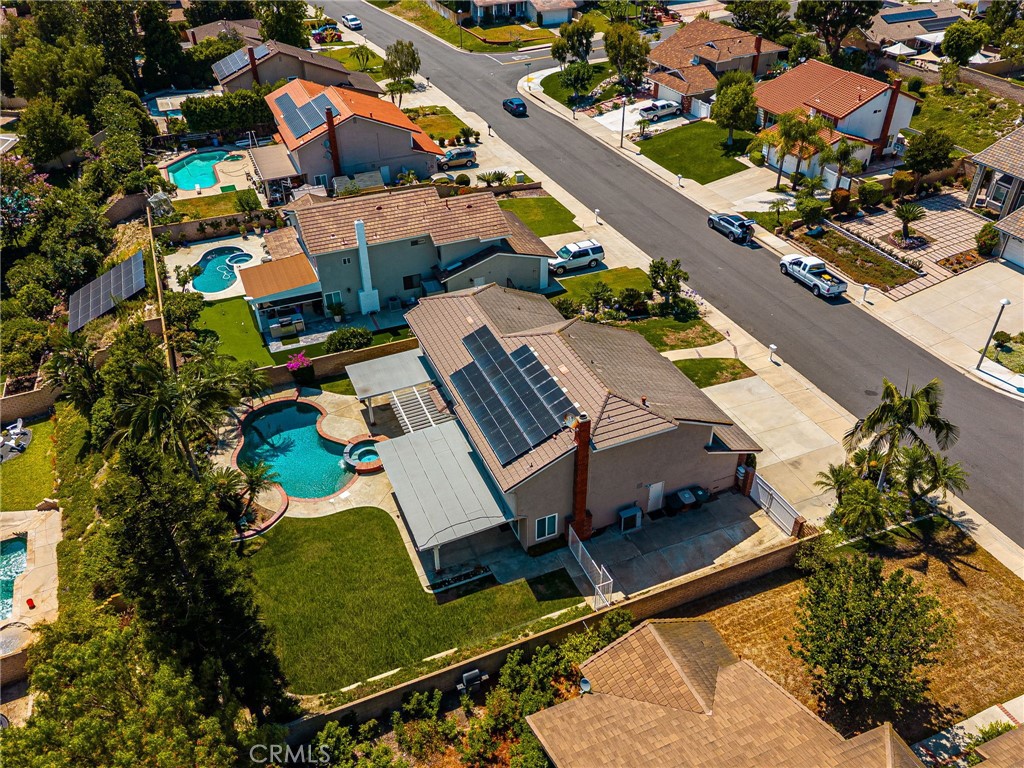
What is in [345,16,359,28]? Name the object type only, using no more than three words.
vehicle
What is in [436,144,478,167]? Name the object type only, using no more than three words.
car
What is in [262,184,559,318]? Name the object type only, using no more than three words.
house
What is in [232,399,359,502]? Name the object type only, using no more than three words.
swimming pool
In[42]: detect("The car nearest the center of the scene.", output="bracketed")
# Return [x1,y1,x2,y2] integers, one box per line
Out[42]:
[549,236,608,271]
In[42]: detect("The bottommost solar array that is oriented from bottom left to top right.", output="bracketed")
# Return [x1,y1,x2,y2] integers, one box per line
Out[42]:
[65,256,144,339]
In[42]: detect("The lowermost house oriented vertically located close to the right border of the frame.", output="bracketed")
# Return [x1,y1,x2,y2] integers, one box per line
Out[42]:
[963,124,1024,271]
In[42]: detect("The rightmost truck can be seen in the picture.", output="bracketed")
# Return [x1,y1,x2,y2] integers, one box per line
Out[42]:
[777,260,842,299]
